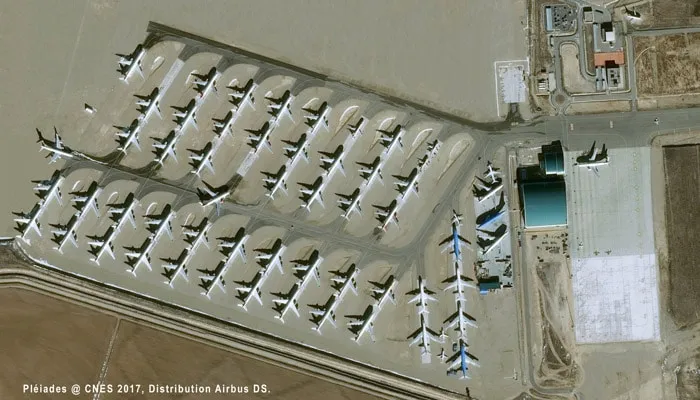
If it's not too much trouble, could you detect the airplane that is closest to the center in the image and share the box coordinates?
[338,194,363,222]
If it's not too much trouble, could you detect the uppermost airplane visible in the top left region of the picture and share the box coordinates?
[120,53,145,81]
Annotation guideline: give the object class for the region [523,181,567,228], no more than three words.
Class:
hangar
